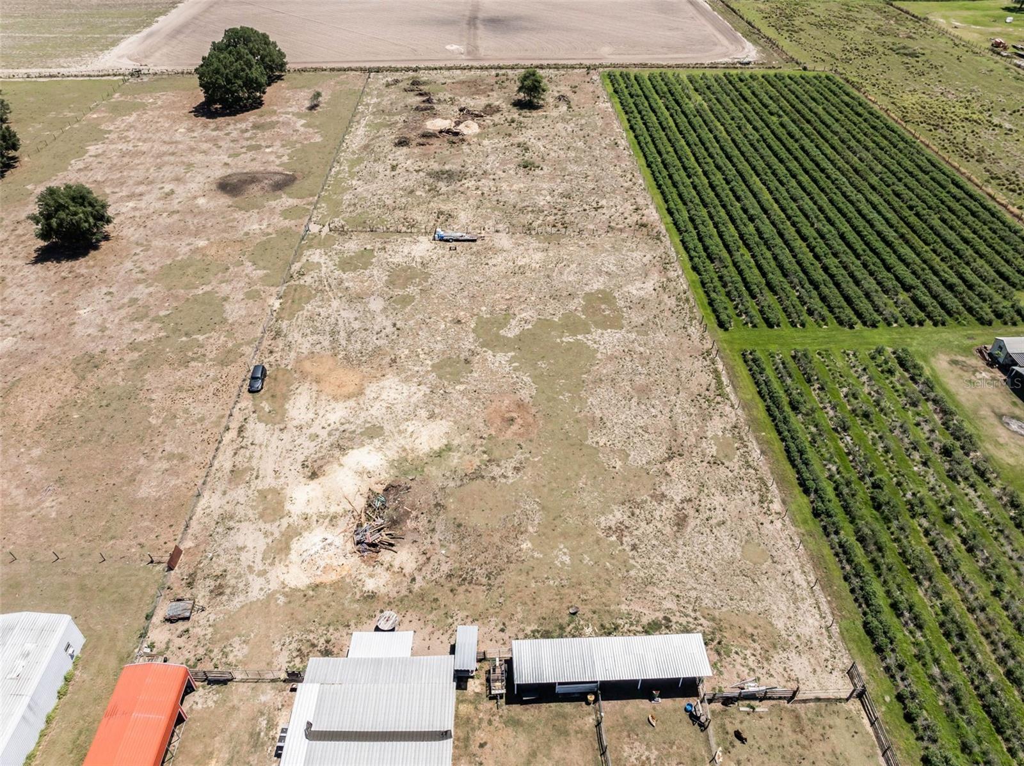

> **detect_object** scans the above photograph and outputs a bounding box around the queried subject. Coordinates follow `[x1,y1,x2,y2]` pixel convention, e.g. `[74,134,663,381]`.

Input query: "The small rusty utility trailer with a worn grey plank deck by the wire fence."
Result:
[159,591,207,623]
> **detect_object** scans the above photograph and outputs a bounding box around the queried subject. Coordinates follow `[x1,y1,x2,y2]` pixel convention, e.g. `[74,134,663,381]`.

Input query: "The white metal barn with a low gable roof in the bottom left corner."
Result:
[0,610,85,766]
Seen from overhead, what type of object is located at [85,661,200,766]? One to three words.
barn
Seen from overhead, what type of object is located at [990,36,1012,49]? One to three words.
vehicle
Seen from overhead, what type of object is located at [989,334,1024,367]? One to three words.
shed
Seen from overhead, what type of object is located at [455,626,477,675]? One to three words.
shed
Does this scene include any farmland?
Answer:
Yes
